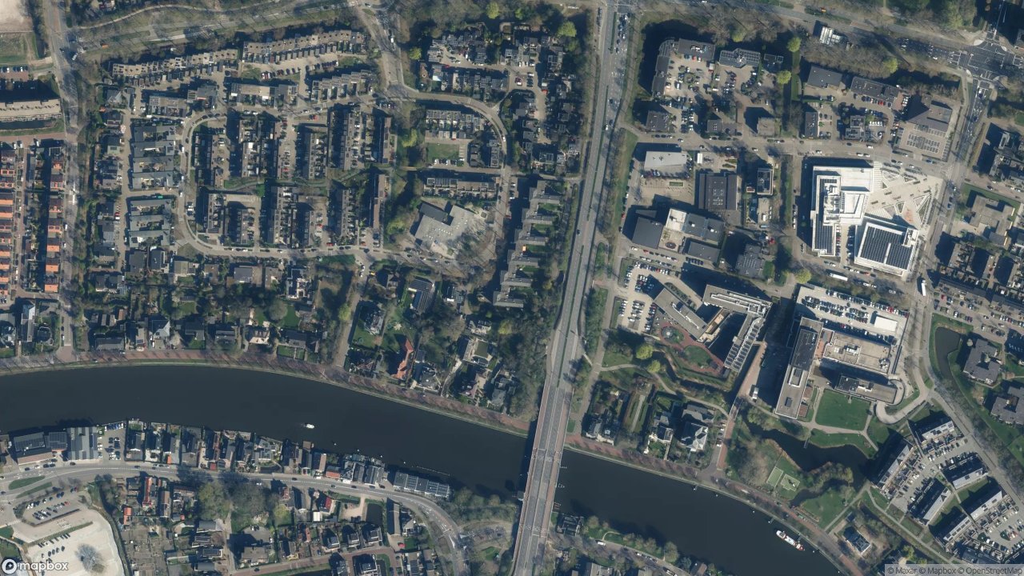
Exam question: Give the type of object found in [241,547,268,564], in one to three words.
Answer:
house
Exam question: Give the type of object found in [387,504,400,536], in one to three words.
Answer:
barn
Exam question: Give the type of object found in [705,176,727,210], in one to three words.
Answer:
building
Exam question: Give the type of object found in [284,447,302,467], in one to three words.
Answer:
house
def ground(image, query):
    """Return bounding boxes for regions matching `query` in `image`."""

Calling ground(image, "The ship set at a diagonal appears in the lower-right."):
[776,530,804,550]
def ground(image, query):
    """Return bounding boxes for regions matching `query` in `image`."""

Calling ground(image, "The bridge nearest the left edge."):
[507,286,586,576]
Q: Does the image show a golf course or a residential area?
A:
residential area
